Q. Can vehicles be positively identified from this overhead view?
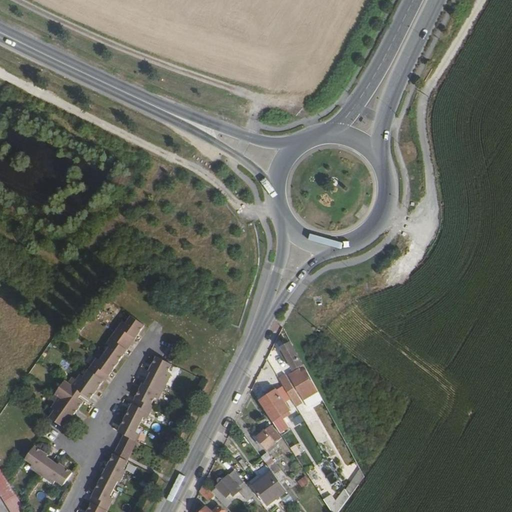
Yes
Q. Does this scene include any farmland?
Yes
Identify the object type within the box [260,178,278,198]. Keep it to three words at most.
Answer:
vehicle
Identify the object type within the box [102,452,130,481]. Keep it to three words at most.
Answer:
house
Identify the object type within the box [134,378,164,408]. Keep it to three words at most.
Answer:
house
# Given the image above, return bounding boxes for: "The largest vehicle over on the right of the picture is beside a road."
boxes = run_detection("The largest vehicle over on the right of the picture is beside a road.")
[308,234,350,251]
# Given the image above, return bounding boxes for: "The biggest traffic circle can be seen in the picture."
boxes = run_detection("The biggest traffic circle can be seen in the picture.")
[268,126,395,254]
